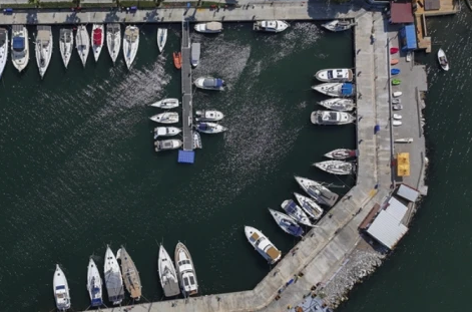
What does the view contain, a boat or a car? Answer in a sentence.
It is a boat that can be seen here.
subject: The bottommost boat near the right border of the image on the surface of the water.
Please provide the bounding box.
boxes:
[436,48,449,72]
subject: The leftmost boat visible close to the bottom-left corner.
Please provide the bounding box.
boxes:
[52,266,70,312]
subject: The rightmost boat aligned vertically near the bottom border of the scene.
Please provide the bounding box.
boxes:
[174,242,203,304]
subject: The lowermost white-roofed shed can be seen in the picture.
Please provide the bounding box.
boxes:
[362,210,408,250]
